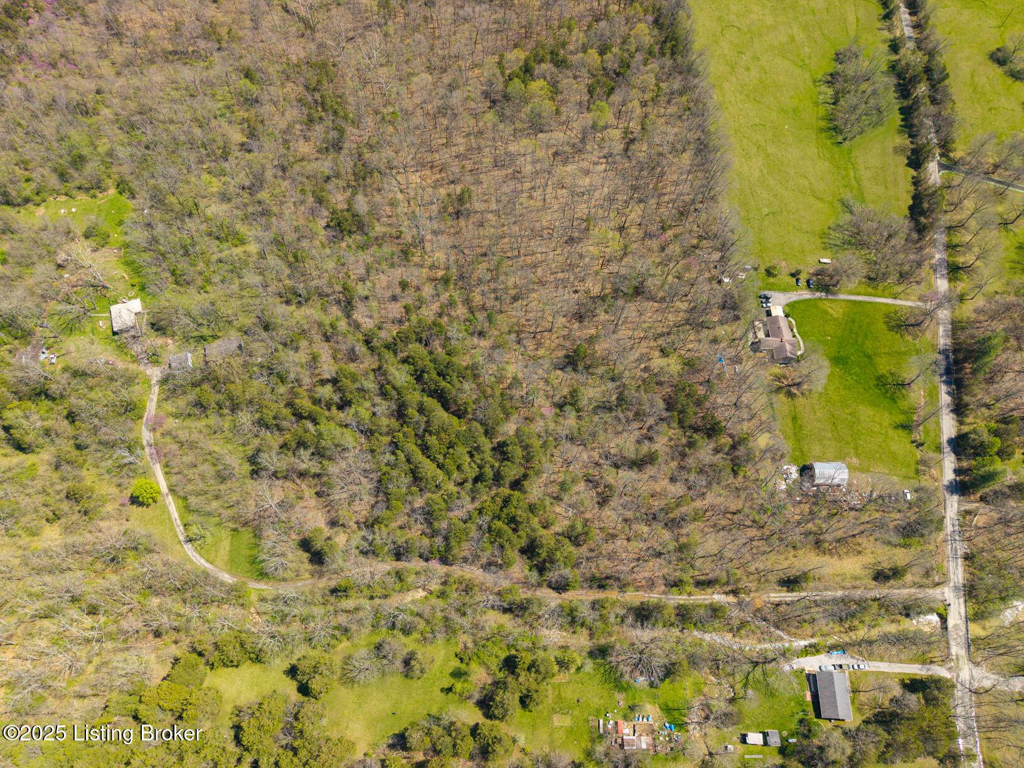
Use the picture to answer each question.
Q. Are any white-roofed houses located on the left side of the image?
Yes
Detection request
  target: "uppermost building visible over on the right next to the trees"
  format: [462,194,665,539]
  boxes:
[760,305,799,363]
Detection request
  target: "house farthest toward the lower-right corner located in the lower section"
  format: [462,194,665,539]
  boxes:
[814,671,853,721]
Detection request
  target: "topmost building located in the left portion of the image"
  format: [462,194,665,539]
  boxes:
[110,298,144,334]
